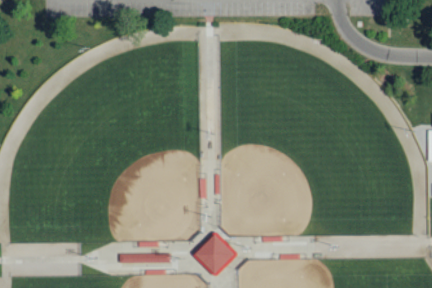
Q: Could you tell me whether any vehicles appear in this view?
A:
No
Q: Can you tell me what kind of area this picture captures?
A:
sports ground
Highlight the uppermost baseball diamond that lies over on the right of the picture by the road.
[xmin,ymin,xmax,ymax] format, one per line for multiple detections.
[221,41,414,236]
